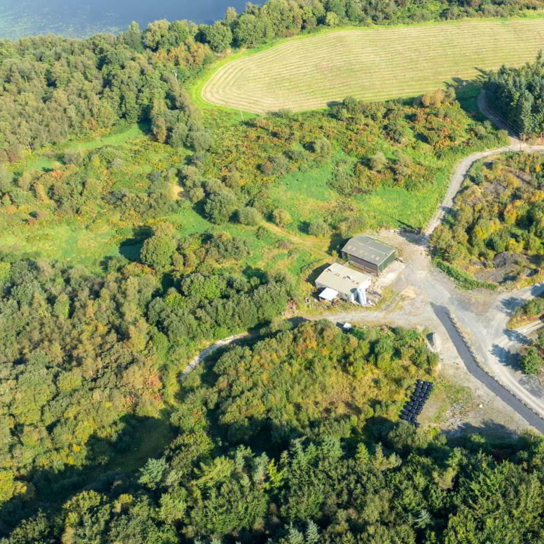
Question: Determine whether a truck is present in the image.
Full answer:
No, I find no truck anywhere in the image.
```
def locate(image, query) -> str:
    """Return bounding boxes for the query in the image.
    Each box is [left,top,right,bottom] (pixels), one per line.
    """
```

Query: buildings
[315,262,370,305]
[340,234,395,274]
